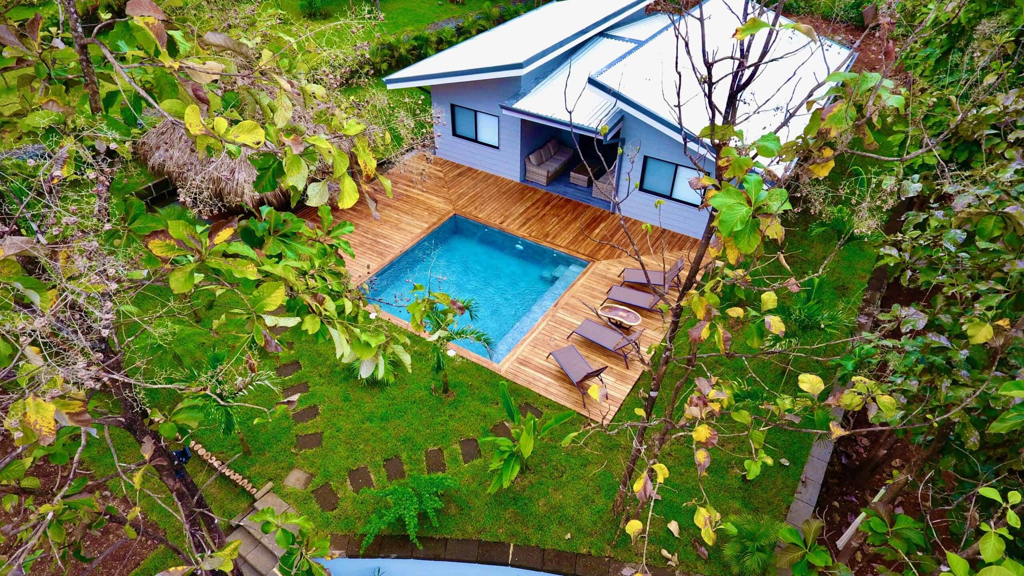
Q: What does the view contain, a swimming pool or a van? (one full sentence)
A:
This aerial view contains a swimming pool.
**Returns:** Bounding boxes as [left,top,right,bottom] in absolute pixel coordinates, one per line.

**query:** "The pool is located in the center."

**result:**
[353,215,589,363]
